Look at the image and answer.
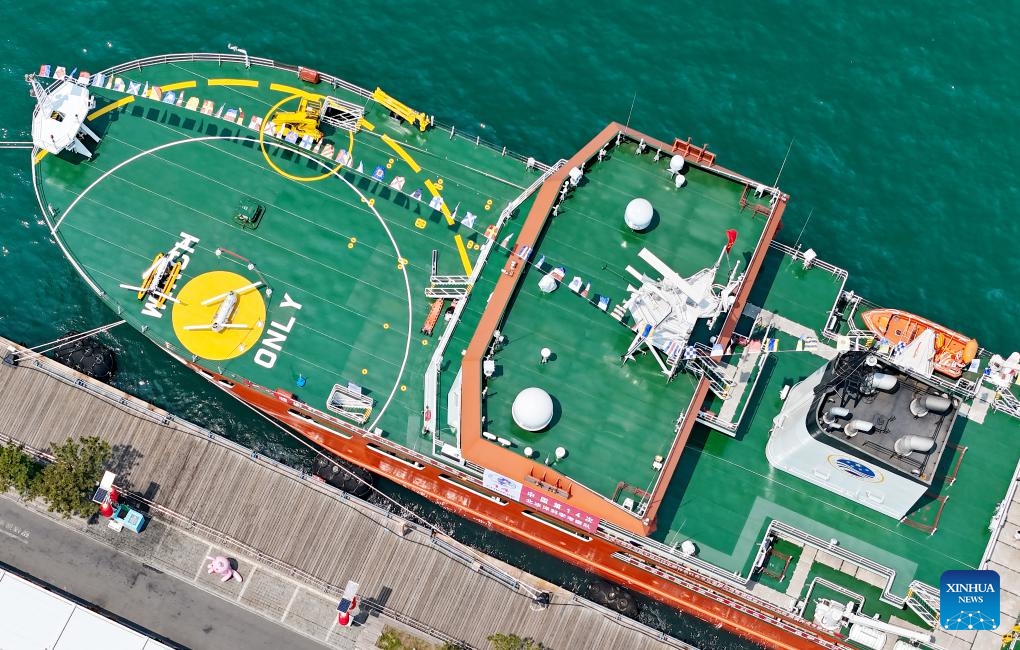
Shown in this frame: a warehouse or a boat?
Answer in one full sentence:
Visible in the photo is a boat.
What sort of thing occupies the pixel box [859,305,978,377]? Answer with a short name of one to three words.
boat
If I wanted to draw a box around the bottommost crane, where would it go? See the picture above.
[812,586,940,650]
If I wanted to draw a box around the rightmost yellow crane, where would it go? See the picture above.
[368,85,431,133]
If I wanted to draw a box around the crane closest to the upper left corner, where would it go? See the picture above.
[271,91,329,145]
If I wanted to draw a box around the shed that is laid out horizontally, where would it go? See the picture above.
[0,565,187,650]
